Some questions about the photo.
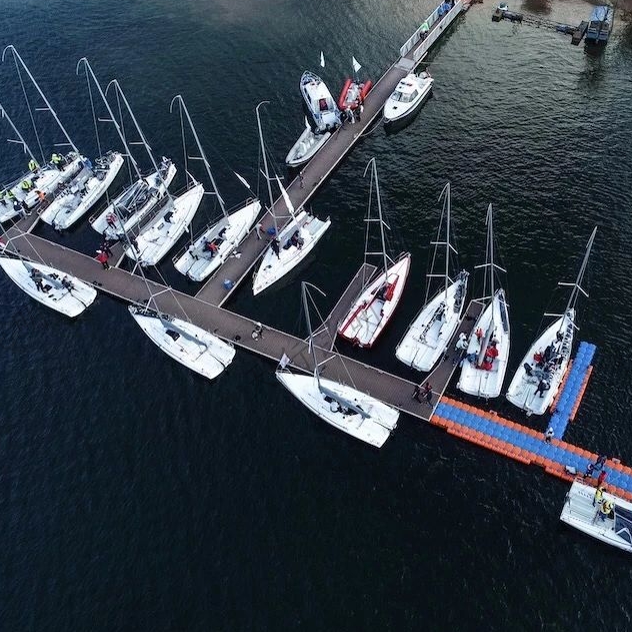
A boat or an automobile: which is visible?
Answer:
boat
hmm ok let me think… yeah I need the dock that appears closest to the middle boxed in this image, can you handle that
[304,262,379,350]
